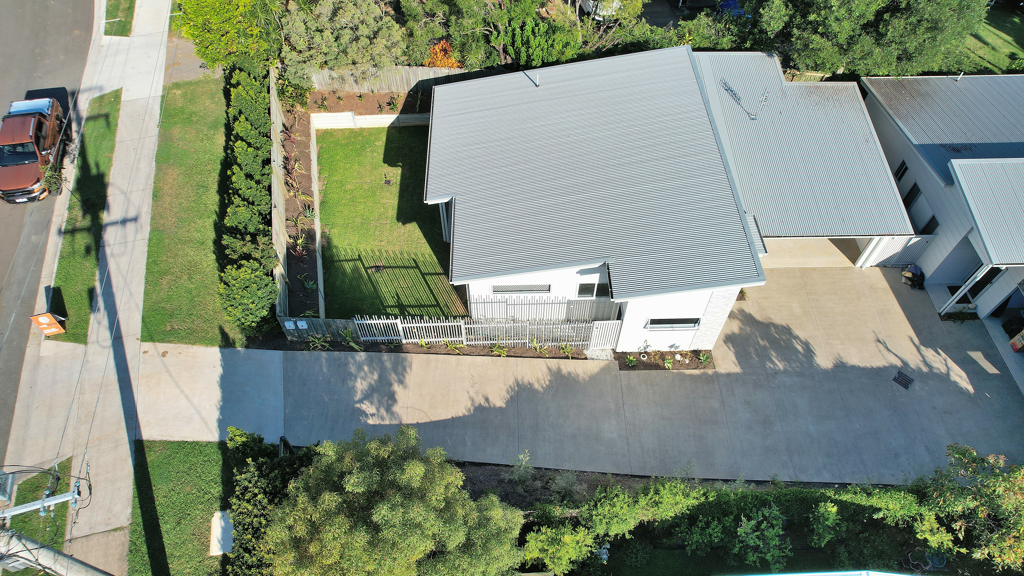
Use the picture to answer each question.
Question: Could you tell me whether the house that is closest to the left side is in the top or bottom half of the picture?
top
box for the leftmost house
[425,43,914,353]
